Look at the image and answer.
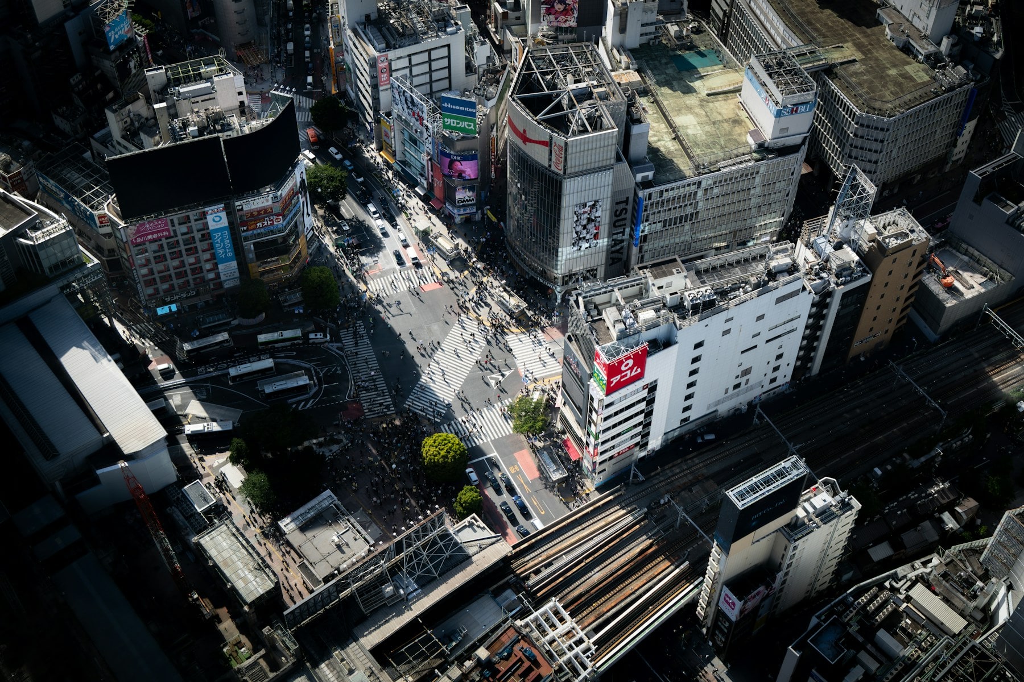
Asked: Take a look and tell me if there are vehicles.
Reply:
Yes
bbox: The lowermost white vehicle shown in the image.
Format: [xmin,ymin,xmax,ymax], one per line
[530,516,545,530]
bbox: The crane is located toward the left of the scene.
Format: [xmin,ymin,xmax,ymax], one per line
[117,462,221,634]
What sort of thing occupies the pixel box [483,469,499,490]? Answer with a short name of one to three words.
car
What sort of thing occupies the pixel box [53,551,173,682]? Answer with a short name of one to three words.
shed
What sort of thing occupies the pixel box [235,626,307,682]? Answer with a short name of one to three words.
building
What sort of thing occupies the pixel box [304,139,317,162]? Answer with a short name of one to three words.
vehicle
